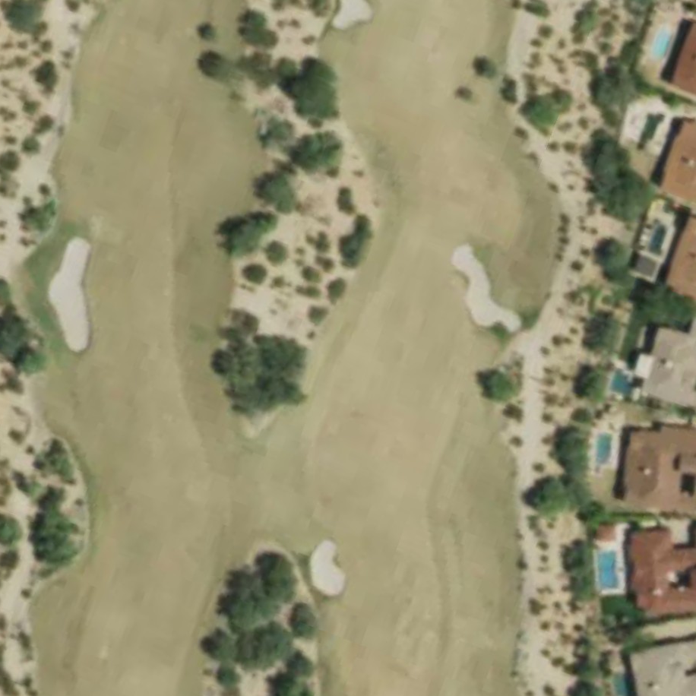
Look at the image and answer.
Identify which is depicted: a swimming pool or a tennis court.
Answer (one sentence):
Visible in the photo is a swimming pool.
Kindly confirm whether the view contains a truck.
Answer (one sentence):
No, I can see no truck in this picture.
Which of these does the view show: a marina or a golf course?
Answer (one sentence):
This image shows a golf course.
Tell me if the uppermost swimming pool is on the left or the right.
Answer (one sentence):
You can find the uppermost swimming pool on the right side of the picture.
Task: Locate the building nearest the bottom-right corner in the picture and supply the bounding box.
[632,643,696,696]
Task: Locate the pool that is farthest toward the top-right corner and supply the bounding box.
[645,13,684,70]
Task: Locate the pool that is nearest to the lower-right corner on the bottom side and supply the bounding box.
[607,667,634,696]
